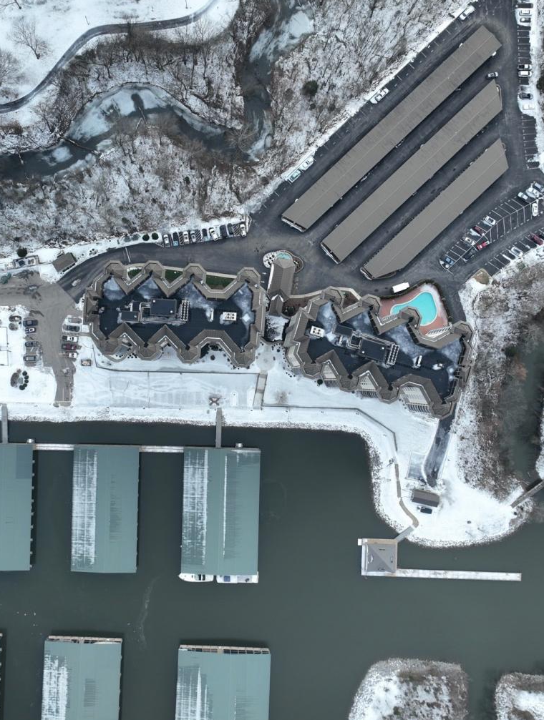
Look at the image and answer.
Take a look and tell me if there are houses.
Yes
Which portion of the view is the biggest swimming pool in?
right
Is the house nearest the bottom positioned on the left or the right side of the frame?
right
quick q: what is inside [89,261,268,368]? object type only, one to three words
building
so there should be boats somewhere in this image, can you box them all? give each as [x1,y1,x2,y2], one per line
[179,573,213,582]
[218,574,257,584]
